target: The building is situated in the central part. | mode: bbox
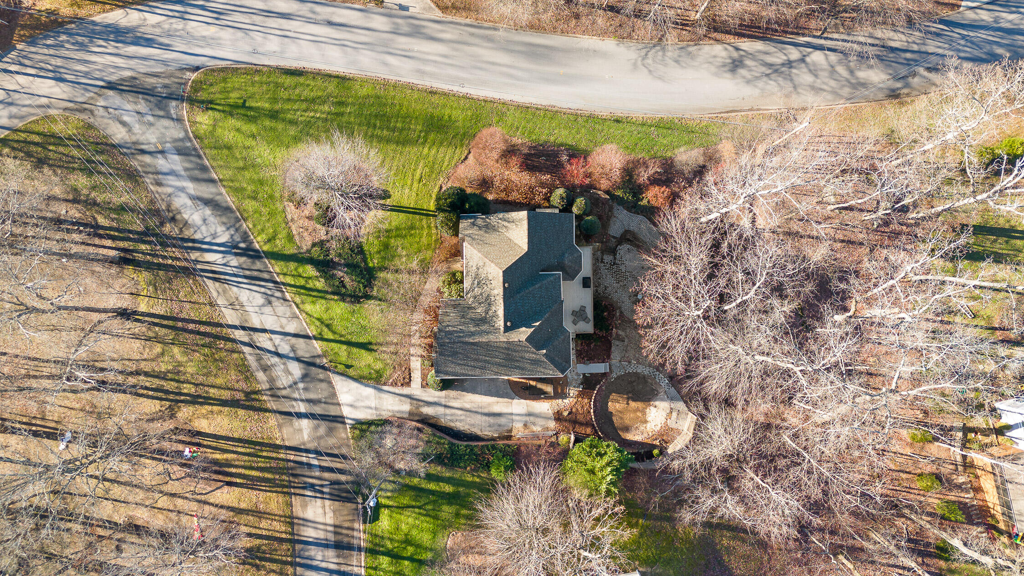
[435,210,595,379]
